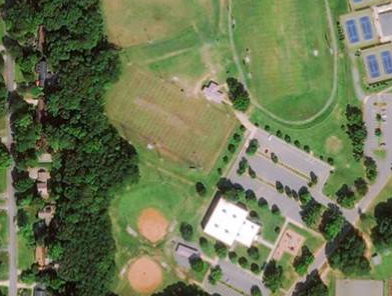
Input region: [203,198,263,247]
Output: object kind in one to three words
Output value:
building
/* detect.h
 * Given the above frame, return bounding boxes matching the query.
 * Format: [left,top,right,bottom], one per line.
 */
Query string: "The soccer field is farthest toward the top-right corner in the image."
[231,0,334,120]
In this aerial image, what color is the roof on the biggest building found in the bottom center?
white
